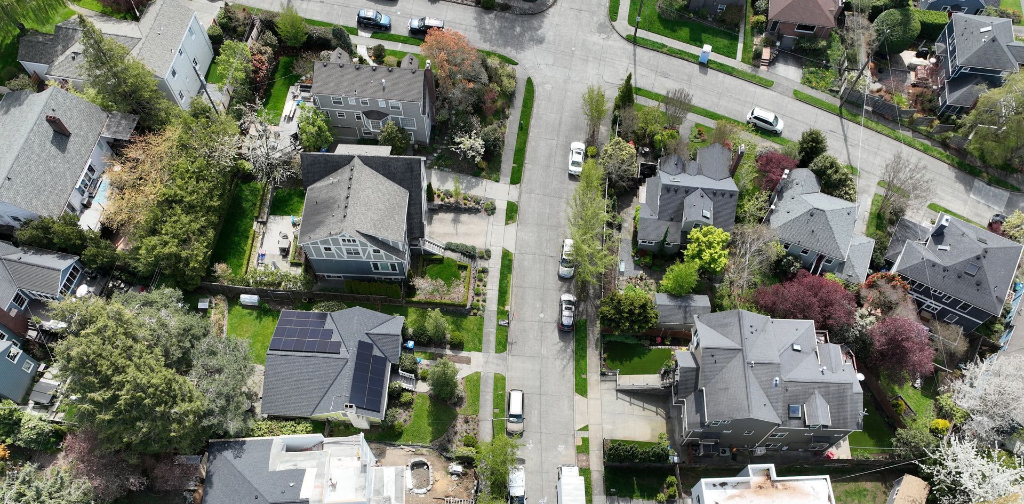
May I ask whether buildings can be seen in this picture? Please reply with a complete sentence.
Yes, the frame does contain a building.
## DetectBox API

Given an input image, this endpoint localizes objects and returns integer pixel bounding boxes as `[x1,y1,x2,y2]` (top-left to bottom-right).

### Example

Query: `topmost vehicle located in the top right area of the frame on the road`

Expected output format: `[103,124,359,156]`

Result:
[747,108,784,135]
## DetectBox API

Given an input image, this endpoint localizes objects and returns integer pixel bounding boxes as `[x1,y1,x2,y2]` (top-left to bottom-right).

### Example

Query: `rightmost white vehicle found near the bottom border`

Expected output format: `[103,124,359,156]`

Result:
[556,464,585,504]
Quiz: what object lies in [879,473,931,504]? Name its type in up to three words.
shed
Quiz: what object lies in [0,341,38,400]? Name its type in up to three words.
house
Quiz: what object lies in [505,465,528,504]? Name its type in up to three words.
vehicle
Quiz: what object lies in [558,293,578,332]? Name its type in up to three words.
car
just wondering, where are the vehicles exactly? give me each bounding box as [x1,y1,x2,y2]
[505,465,528,504]
[504,389,526,436]
[568,142,586,177]
[985,209,1008,233]
[409,14,443,34]
[747,108,784,135]
[557,238,577,280]
[356,10,392,31]
[556,464,585,504]
[558,293,578,332]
